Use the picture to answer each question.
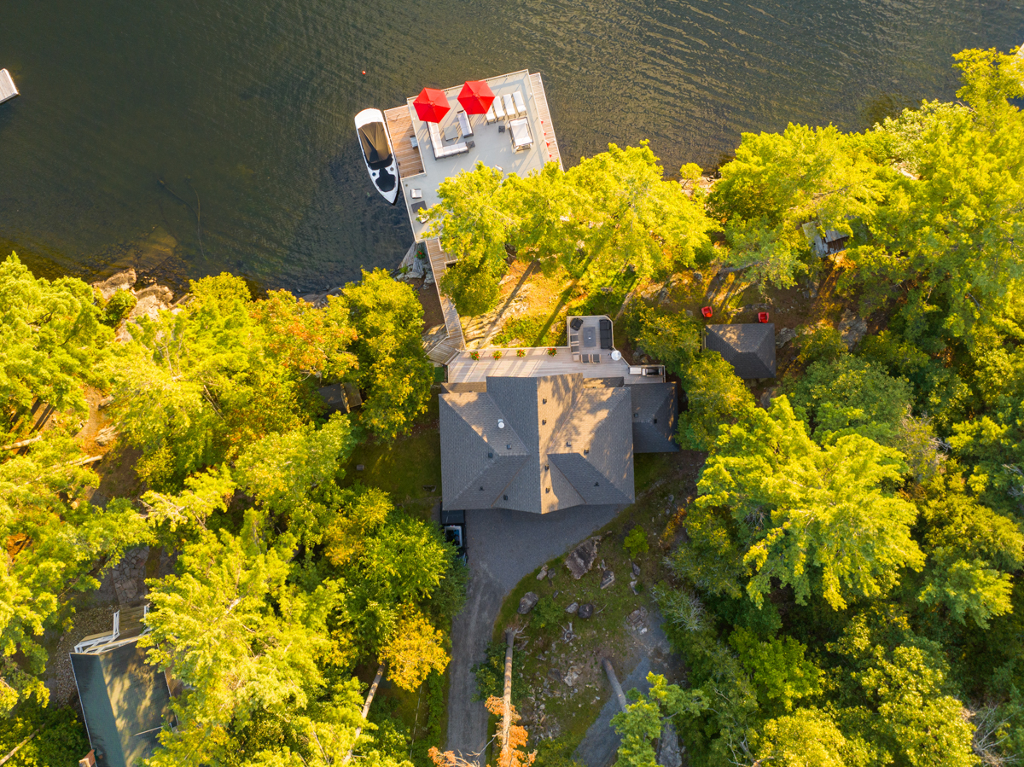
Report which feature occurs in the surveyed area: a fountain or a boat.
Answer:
boat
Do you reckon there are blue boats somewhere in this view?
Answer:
No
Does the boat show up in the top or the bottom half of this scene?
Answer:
top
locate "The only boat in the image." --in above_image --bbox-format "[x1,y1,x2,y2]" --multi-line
[357,107,401,205]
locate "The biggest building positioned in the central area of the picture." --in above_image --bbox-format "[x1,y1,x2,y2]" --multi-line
[438,374,635,517]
